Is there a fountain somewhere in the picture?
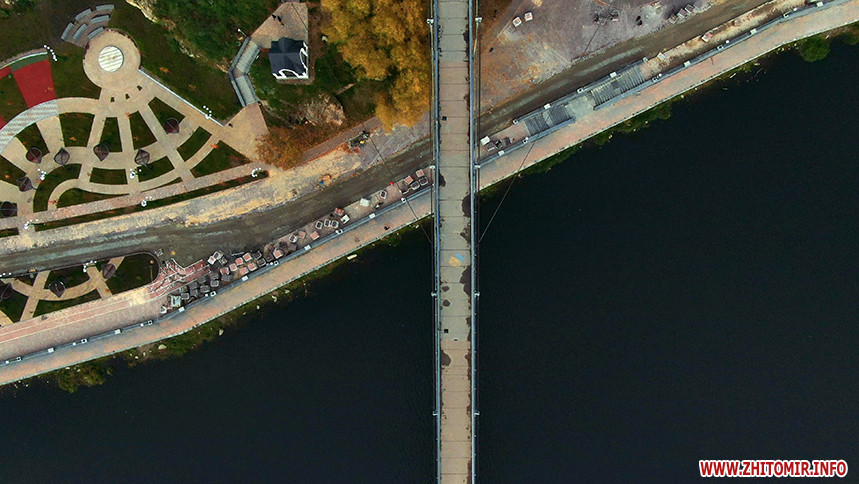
No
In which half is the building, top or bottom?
top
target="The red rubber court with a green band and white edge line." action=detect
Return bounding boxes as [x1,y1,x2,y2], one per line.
[0,52,56,108]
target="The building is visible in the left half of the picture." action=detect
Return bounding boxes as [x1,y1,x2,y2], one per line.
[267,29,308,79]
